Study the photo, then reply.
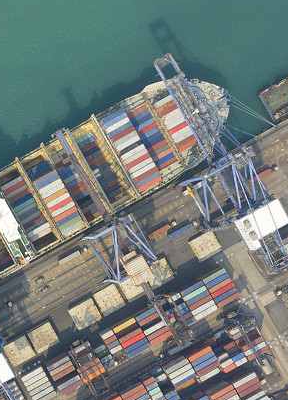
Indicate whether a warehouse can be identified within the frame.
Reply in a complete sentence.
No, no warehouse is visible in the view.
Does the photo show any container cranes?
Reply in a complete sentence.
Yes, looking at the shot, I can spot a container crane.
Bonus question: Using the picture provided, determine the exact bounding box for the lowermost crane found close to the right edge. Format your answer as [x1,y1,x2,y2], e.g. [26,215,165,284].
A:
[216,308,279,370]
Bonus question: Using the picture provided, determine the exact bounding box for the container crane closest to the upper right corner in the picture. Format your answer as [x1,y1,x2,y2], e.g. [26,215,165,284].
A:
[150,49,288,263]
